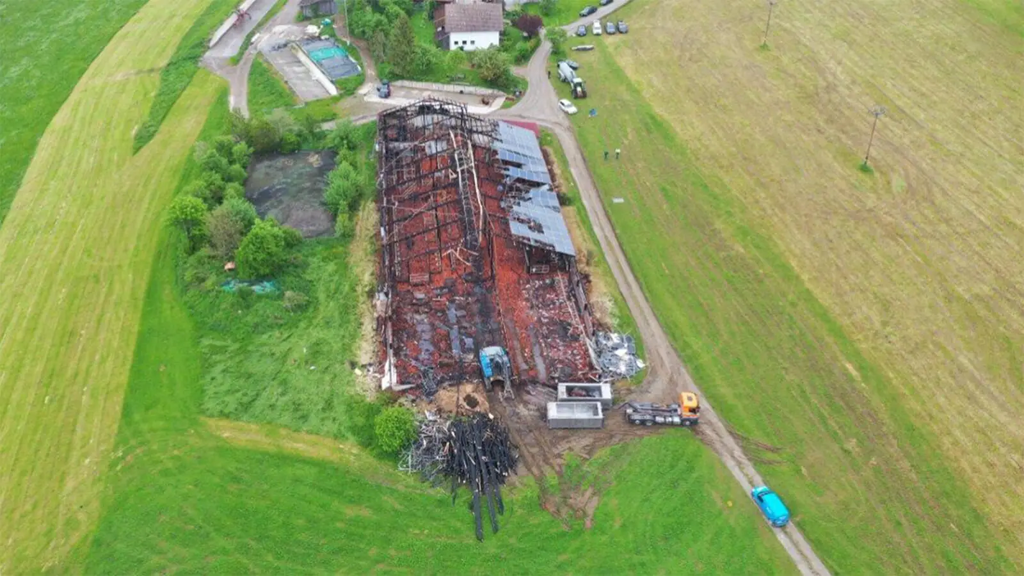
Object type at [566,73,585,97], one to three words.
work vehicle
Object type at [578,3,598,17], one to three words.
car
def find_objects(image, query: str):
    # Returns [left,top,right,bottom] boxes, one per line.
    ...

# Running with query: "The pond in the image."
[245,149,336,239]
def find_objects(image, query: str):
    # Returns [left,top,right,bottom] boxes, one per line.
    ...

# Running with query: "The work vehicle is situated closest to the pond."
[377,79,390,100]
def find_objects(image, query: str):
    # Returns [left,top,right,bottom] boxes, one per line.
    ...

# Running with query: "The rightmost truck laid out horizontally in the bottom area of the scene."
[618,393,703,425]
